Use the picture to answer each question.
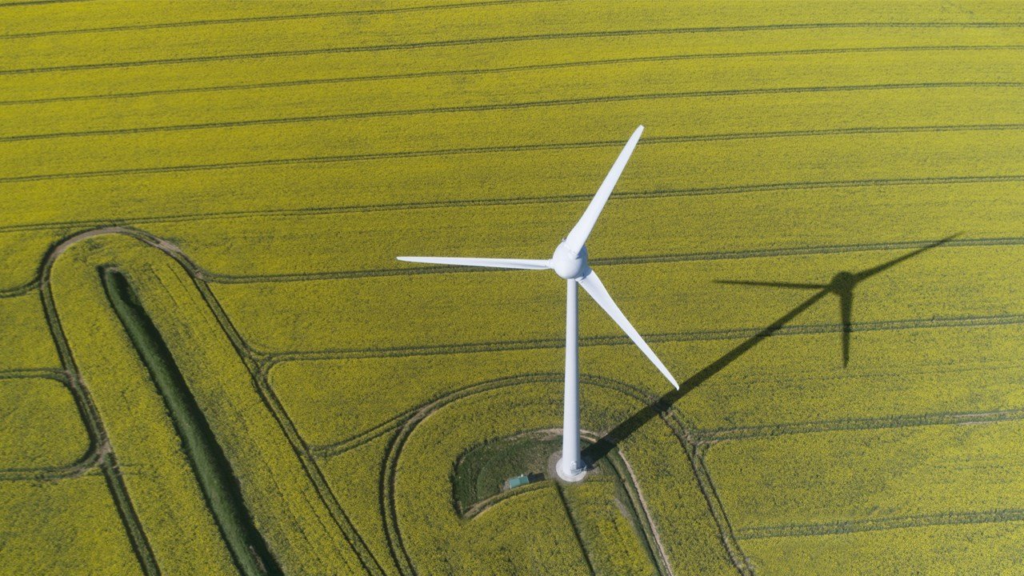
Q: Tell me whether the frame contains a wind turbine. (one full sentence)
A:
Yes, I can see a wind turbine in this picture.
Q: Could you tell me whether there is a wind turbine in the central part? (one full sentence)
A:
Yes, you'll find a wind turbine in the central part.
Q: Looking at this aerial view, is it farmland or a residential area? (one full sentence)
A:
This looks like farmland.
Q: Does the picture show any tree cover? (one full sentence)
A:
No, there's no tree cover in this view.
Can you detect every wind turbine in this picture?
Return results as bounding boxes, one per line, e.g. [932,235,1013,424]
[397,121,680,482]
